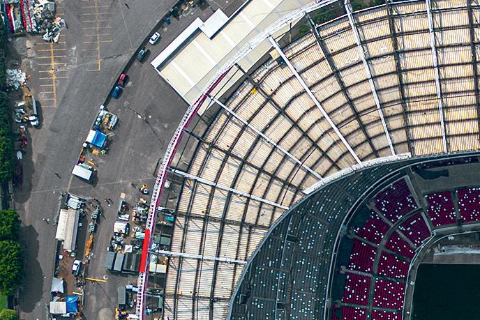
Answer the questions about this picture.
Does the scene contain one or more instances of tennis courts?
No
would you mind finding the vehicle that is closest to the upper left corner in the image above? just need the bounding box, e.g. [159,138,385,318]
[27,98,40,125]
